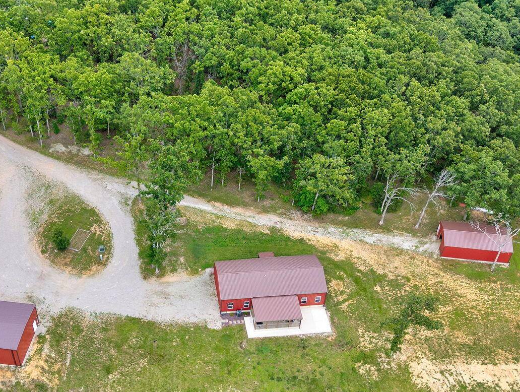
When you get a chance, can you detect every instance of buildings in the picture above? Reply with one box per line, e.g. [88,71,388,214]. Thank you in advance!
[438,222,514,264]
[0,300,40,366]
[215,252,328,331]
